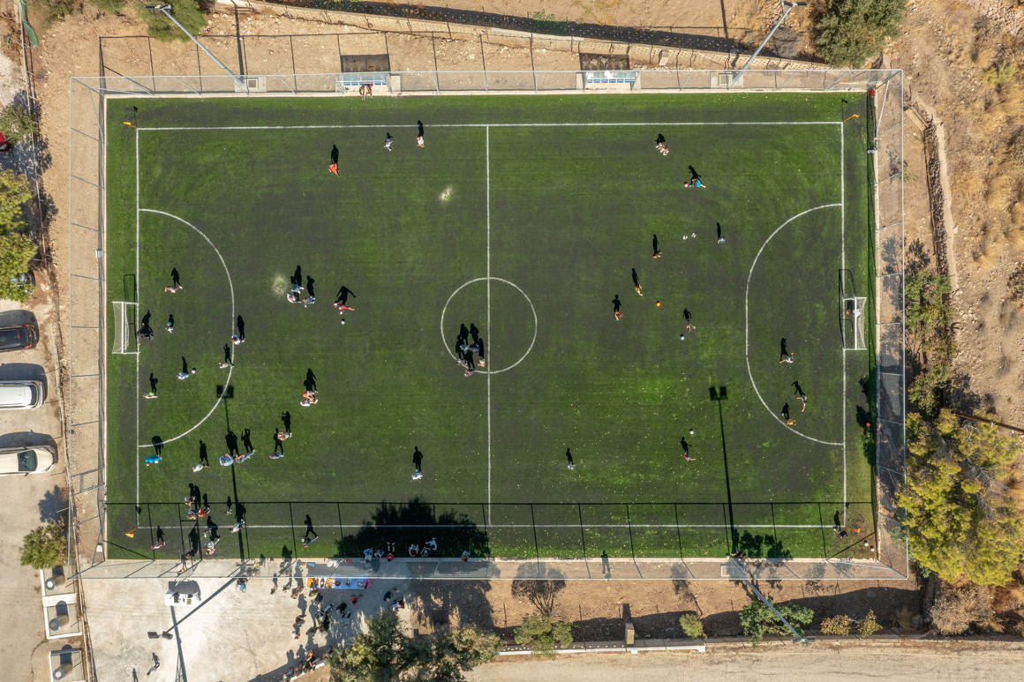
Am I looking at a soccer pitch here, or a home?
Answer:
soccer pitch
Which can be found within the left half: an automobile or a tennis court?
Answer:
automobile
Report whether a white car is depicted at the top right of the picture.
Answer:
No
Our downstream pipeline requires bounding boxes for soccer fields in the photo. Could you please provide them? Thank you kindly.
[107,93,879,559]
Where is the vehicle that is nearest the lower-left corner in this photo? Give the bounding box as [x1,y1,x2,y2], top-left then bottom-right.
[0,445,56,480]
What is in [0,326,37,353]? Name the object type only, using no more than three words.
car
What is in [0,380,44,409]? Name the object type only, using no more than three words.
car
